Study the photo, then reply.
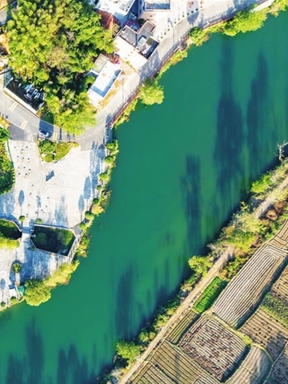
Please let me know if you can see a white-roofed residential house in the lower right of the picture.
No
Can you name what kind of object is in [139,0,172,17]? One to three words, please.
building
